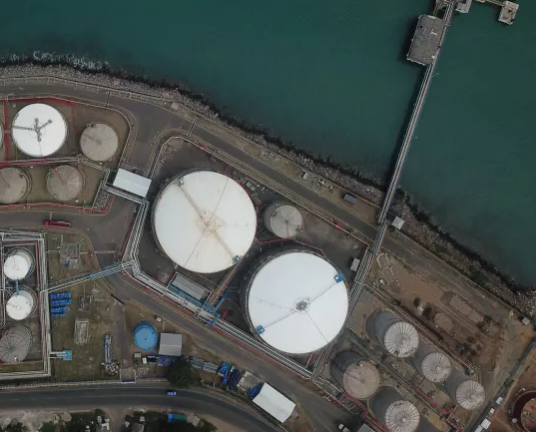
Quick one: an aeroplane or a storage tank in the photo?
storage tank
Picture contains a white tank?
Yes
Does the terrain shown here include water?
Yes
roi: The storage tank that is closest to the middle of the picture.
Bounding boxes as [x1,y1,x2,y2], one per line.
[263,195,304,239]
